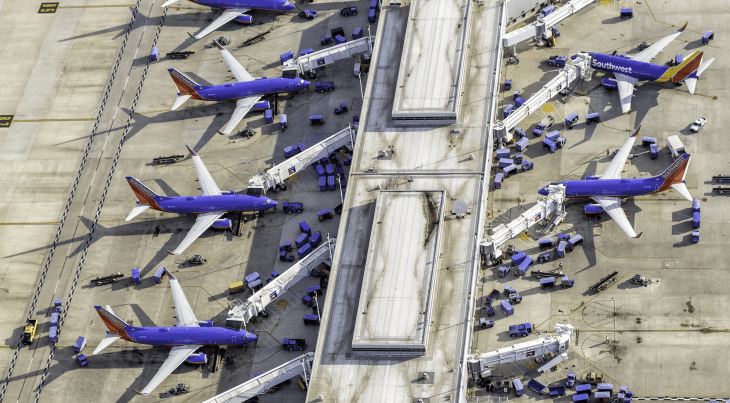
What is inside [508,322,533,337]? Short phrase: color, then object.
blue work vehicle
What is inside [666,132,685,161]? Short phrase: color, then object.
white vehicle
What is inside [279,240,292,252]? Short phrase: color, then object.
blue vehicle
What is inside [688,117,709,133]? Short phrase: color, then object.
white vehicle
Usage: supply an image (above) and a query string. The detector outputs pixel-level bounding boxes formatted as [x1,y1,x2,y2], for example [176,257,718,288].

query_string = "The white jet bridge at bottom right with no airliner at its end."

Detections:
[466,324,580,390]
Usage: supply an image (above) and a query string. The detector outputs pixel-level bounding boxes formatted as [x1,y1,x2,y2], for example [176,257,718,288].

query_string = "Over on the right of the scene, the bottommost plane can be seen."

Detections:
[538,126,692,240]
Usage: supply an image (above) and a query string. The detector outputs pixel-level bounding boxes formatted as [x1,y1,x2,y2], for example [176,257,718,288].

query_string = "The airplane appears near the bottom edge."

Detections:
[94,267,259,397]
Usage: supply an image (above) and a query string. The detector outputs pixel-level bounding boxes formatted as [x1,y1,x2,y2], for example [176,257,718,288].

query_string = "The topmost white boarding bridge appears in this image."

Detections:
[500,0,605,59]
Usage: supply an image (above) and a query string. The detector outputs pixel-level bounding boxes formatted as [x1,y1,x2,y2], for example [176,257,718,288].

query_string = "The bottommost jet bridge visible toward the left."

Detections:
[196,350,318,403]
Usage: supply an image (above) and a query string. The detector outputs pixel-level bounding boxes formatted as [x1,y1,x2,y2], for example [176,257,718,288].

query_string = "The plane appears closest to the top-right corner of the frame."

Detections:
[571,21,714,117]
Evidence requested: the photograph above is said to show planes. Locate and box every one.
[167,40,311,137]
[162,0,295,40]
[538,126,692,240]
[125,145,279,257]
[94,267,259,397]
[571,21,714,117]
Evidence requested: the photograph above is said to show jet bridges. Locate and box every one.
[228,234,341,328]
[500,0,605,59]
[466,324,580,390]
[479,190,568,272]
[281,37,382,82]
[196,350,318,403]
[249,123,364,195]
[491,54,592,148]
